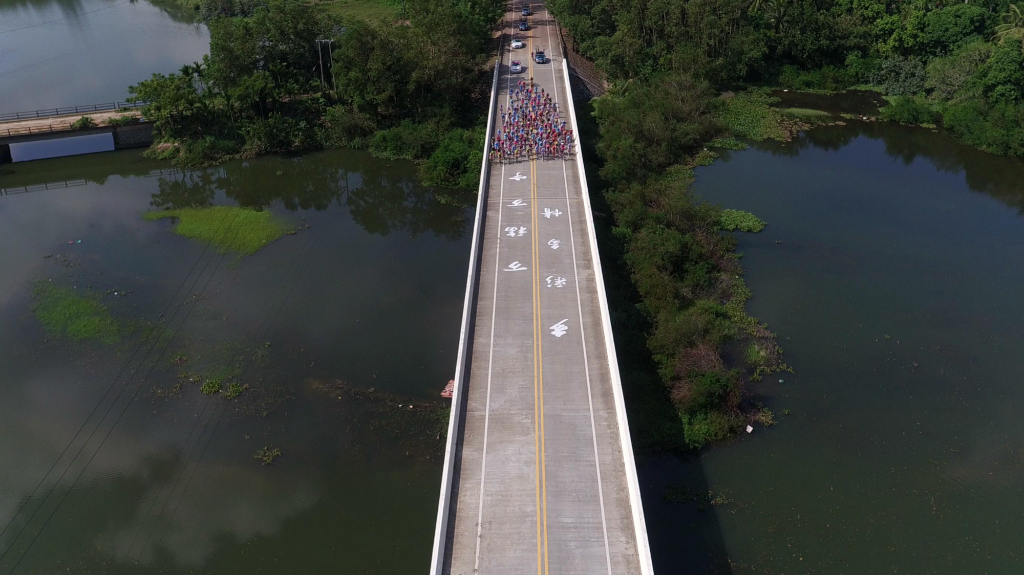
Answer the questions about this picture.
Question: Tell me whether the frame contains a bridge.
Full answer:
Yes, a bridge appears in the view.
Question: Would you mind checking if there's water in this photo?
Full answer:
Yes, the picture does contain water.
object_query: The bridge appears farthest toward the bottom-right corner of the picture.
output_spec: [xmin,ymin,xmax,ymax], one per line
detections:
[430,54,657,575]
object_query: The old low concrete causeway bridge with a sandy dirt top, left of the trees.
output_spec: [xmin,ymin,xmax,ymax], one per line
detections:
[0,105,164,164]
